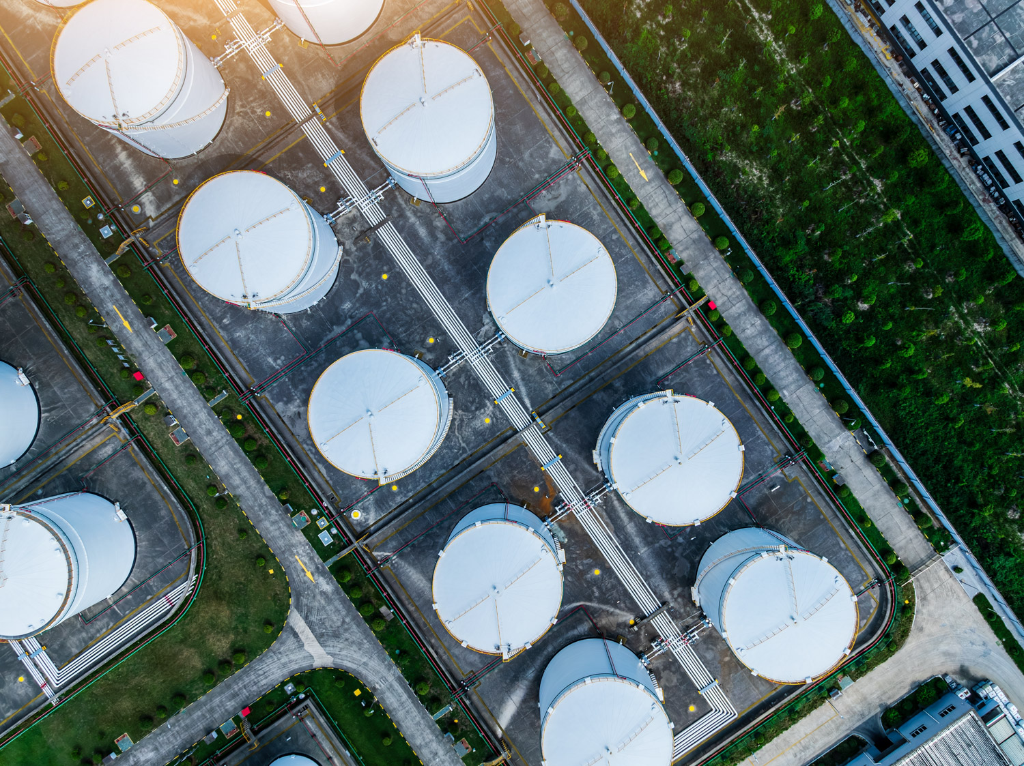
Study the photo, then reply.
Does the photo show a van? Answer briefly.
No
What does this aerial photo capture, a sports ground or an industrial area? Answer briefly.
industrial area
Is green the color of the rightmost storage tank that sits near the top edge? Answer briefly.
No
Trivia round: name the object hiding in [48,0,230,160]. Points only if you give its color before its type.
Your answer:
white storage tank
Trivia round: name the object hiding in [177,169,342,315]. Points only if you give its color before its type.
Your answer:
white storage tank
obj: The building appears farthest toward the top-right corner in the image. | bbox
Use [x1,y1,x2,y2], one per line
[863,0,1024,225]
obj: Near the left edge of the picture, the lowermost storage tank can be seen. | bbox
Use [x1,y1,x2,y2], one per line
[0,491,135,650]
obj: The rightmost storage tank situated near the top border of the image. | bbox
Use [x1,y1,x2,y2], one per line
[360,30,499,208]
